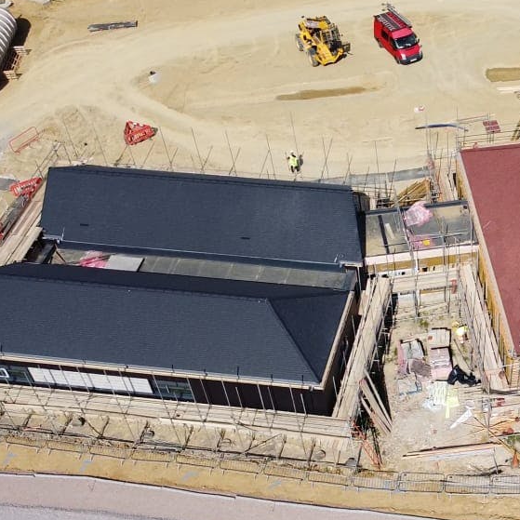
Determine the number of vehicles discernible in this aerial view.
2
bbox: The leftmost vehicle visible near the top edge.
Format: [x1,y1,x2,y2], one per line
[295,17,343,73]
